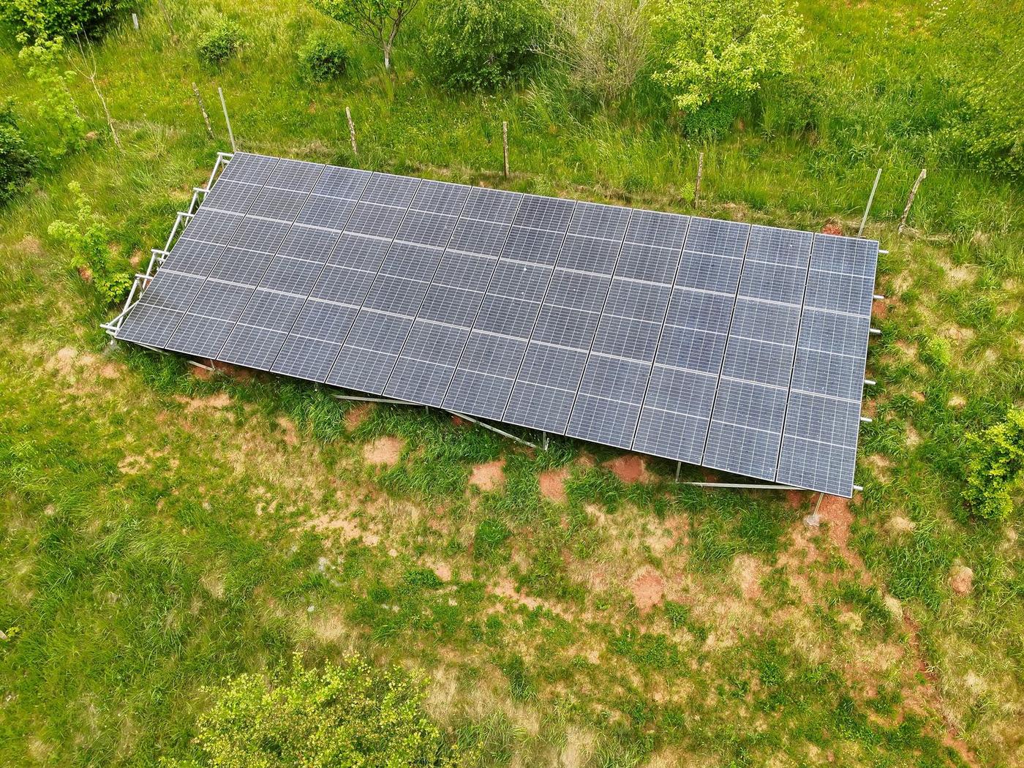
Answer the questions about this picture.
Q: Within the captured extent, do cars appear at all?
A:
No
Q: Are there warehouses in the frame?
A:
No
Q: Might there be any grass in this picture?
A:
Yes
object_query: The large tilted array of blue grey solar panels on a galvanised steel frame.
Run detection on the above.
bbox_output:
[105,152,887,523]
